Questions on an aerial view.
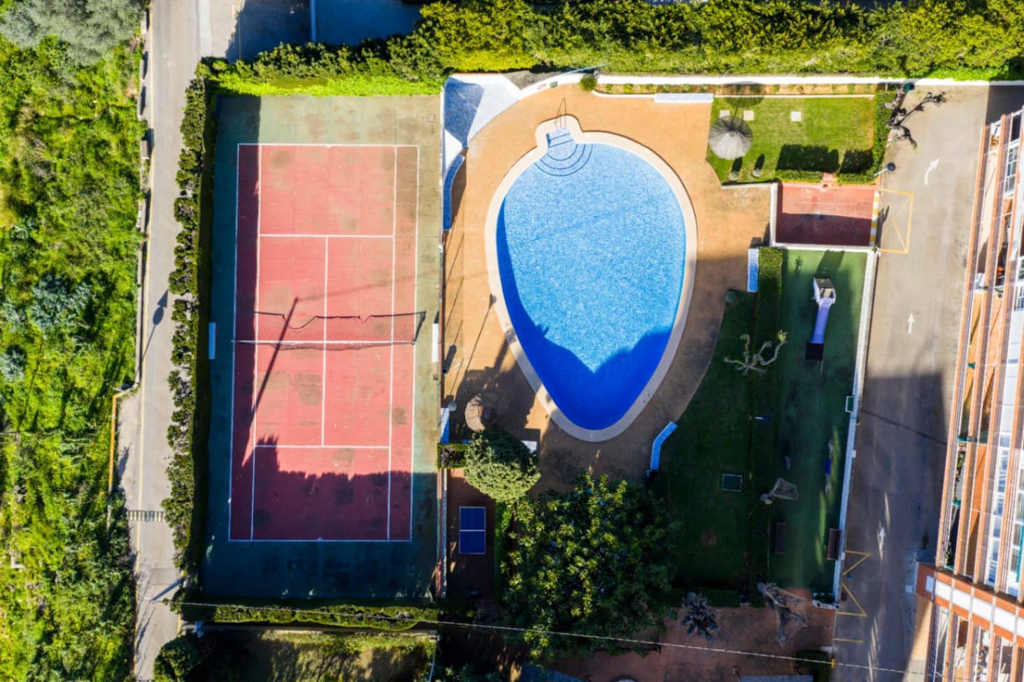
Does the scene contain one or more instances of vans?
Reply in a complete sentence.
No, I find no van anywhere in the image.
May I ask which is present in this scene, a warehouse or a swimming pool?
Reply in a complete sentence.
It is a swimming pool that can be seen here.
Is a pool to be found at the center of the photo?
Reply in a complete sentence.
Yes, at the center of the photo there is a pool.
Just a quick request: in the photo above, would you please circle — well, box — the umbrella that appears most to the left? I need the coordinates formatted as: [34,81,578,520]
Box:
[465,390,507,432]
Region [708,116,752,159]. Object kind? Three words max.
umbrella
